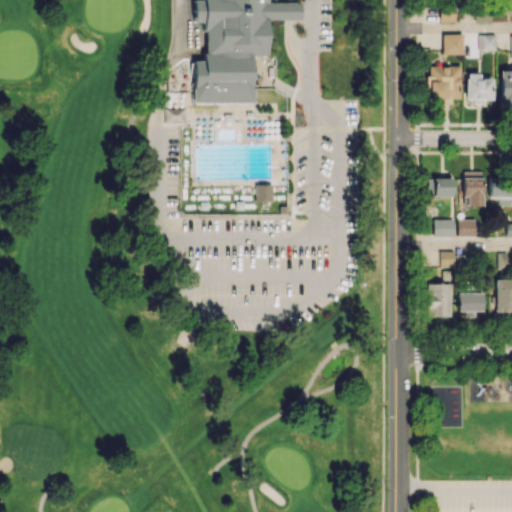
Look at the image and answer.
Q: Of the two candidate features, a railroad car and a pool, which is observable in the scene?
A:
pool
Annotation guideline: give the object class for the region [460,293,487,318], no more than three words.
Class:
house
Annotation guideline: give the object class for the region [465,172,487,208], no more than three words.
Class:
house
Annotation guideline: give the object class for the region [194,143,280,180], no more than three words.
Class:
swimming pool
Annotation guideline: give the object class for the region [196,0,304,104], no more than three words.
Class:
building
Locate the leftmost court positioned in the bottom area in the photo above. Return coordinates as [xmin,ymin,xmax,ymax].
[432,387,462,428]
